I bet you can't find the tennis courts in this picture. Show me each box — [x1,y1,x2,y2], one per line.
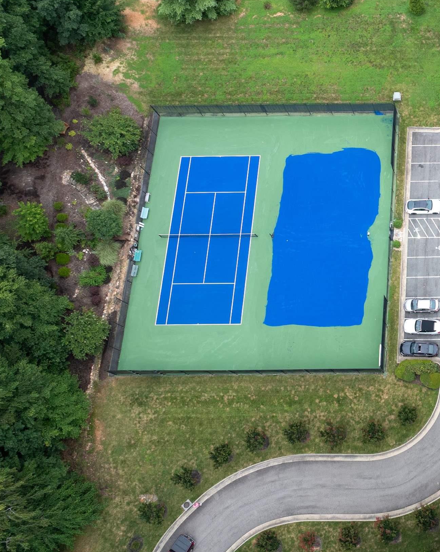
[154,156,260,325]
[263,147,380,327]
